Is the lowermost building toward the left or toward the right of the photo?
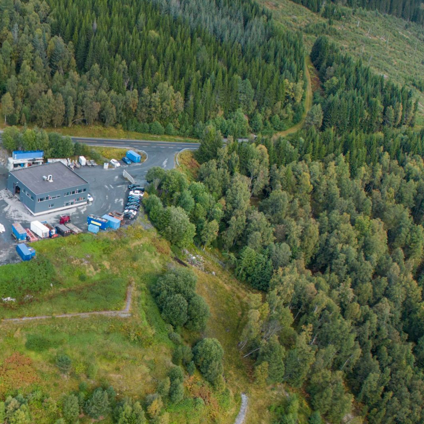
left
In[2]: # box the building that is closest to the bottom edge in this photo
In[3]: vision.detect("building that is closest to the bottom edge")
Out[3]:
[0,164,90,216]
